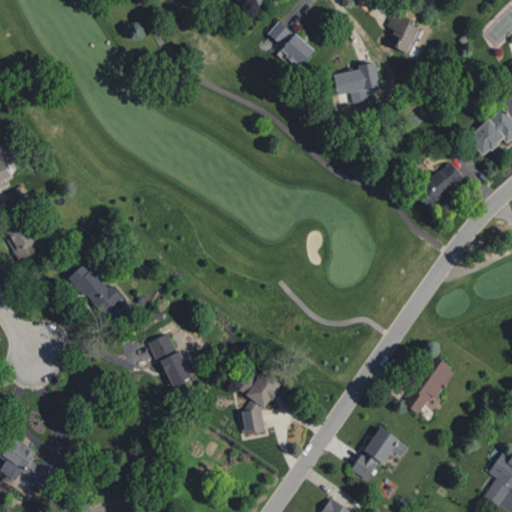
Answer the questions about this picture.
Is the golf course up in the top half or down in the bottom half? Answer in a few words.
top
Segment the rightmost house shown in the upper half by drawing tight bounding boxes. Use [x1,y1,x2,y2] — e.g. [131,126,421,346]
[474,110,512,153]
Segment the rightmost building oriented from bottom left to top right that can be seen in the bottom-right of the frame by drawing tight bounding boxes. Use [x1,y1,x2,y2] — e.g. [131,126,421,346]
[409,361,454,414]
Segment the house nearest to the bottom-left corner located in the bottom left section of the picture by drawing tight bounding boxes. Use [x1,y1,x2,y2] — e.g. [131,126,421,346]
[0,442,36,481]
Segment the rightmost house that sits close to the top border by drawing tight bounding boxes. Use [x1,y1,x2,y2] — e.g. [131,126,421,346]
[386,18,424,56]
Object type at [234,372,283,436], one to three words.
house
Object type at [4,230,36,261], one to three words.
house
